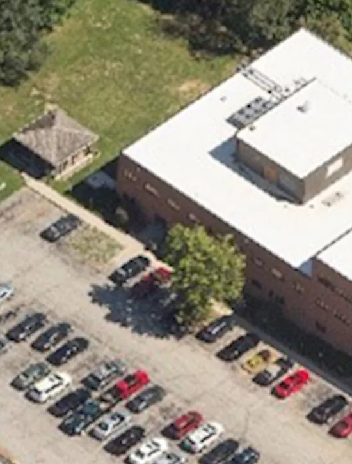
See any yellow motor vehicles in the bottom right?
Yes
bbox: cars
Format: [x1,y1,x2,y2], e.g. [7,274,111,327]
[252,357,293,388]
[126,433,169,464]
[238,347,276,378]
[109,254,150,287]
[10,356,54,393]
[272,369,312,400]
[308,393,350,427]
[161,405,204,444]
[28,368,71,404]
[198,438,241,464]
[38,213,80,245]
[330,412,352,440]
[180,418,223,456]
[82,355,124,392]
[103,424,145,458]
[219,327,261,364]
[90,410,132,442]
[125,384,167,417]
[225,448,261,464]
[198,313,235,344]
[48,386,91,420]
[47,336,90,368]
[129,267,166,299]
[30,321,72,354]
[6,308,49,345]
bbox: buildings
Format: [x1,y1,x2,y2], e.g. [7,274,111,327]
[11,108,99,181]
[123,30,352,357]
